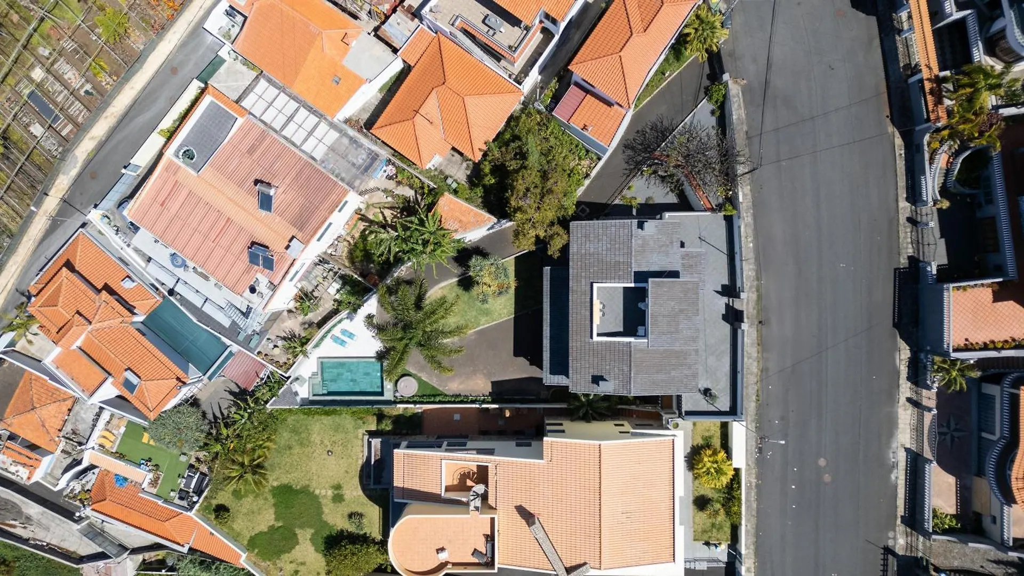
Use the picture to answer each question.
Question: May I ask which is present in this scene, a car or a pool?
pool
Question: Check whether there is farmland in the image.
No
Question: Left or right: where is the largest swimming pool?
left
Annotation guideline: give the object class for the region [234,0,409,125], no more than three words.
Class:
house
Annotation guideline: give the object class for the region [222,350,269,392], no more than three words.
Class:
shed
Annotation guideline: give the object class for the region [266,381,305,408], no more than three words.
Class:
shed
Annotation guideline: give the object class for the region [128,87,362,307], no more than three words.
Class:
house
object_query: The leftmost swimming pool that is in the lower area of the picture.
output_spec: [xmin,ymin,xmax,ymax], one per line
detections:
[286,294,397,404]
